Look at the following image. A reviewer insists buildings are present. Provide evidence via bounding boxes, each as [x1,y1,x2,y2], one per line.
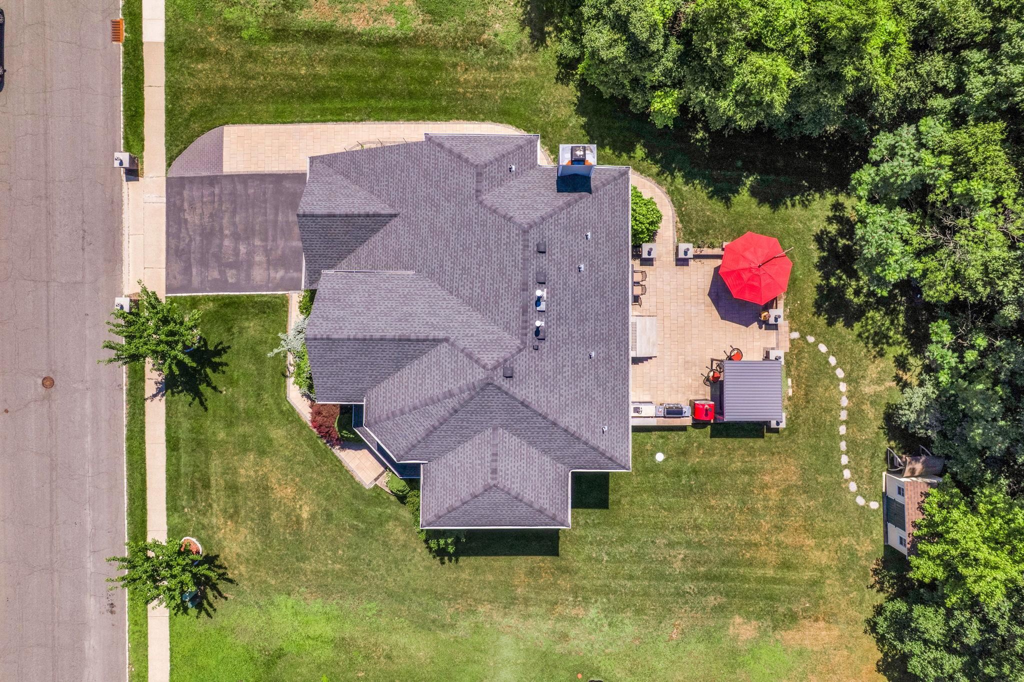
[882,472,956,562]
[295,133,632,528]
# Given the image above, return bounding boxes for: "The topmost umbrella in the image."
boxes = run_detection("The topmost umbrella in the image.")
[719,232,794,305]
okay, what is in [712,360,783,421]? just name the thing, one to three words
gazebo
